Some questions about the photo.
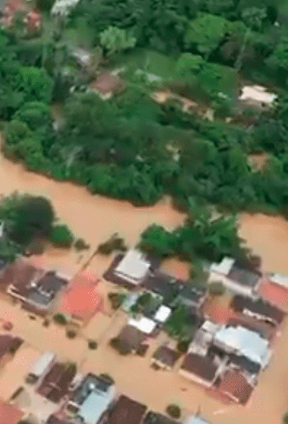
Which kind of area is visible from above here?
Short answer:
residential area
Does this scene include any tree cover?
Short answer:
Yes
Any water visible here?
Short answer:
Yes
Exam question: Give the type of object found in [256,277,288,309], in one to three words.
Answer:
house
